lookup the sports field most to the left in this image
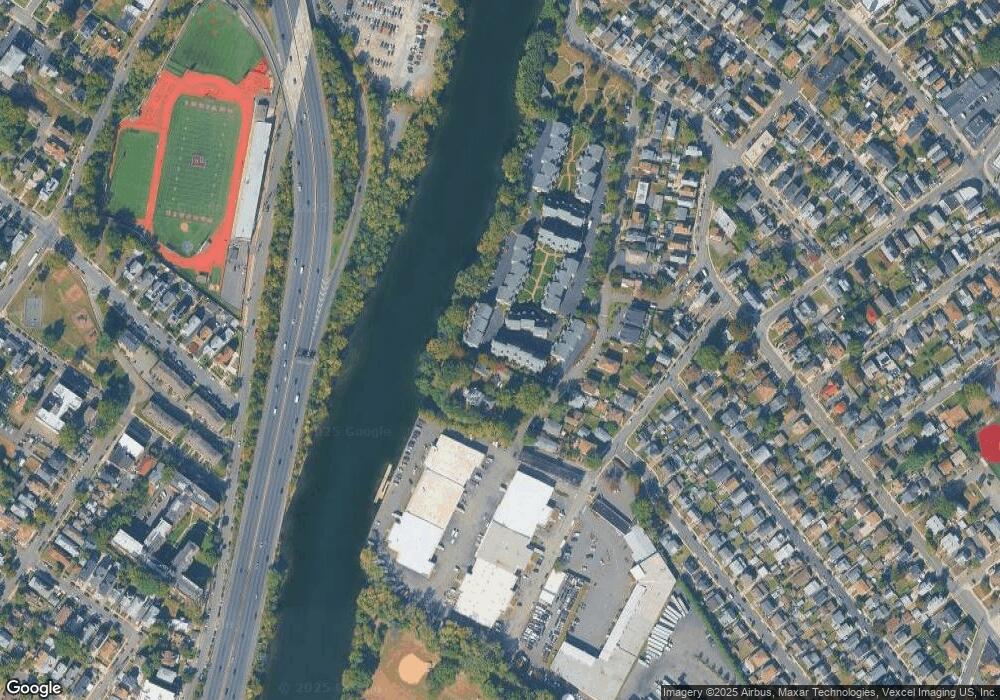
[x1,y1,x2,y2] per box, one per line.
[108,129,157,219]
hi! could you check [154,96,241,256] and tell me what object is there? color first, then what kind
green sports field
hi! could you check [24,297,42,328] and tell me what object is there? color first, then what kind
gray sports court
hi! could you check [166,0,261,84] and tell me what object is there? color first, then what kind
green baseball field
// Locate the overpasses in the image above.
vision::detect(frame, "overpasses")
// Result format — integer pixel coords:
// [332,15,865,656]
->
[282,0,312,127]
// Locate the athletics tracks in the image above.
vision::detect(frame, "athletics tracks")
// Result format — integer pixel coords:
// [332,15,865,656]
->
[119,62,271,272]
